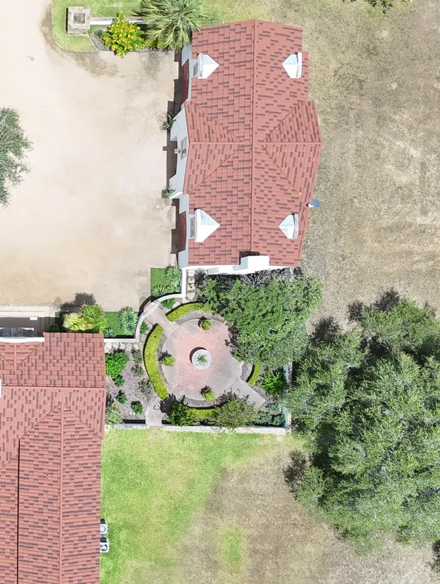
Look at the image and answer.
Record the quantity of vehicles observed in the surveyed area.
0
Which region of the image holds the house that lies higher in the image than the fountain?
top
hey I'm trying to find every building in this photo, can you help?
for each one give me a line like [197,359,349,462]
[171,17,322,274]
[0,327,109,584]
